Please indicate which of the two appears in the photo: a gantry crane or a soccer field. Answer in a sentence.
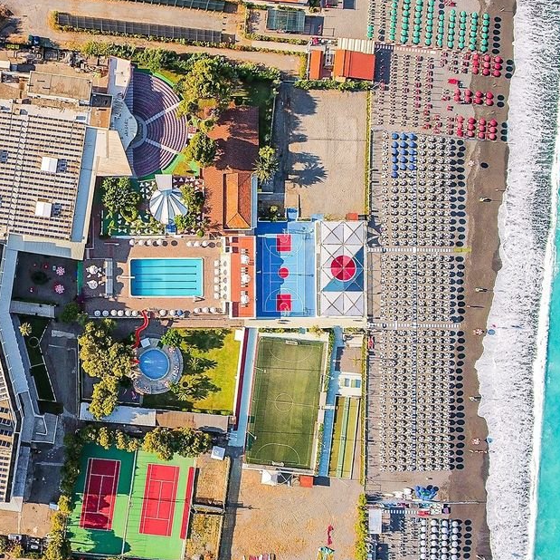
Visible in the photo is a soccer field.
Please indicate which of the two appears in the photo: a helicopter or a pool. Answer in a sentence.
This aerial view contains a pool.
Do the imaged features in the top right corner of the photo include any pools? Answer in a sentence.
No, no pool is visible in the top right corner of the photo.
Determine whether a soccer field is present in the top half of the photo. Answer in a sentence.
No, no soccer field appears in the top half of the photo.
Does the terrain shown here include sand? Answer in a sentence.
Yes, there is sand in the image.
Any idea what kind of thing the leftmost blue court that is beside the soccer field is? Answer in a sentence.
I'd identify the leftmost blue court that is beside the soccer field as a basketball court.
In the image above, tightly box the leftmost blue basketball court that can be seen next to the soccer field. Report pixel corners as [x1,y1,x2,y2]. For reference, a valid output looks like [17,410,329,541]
[258,223,315,317]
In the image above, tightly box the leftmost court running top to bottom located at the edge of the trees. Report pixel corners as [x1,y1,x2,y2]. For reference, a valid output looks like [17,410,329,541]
[80,457,121,530]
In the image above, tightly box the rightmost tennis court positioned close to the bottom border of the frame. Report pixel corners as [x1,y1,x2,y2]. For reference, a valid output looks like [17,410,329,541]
[139,463,180,537]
